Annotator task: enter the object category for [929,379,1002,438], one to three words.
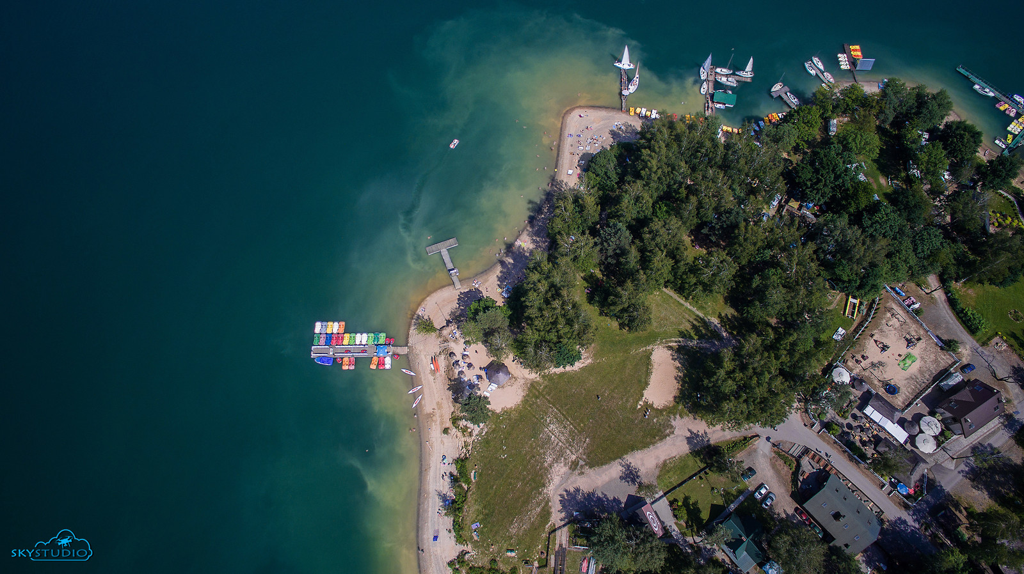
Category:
house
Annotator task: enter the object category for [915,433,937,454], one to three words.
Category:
umbrella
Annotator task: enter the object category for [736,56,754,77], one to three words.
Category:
boat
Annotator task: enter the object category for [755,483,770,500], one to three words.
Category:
car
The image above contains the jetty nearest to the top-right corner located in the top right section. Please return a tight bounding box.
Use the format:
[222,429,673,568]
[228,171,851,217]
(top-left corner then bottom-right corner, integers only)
[955,64,1024,113]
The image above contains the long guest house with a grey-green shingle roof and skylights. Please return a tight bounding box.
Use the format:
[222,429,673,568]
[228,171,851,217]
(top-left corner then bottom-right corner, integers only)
[797,472,880,556]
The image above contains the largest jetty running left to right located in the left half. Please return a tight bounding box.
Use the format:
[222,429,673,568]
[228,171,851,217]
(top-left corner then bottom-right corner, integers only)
[311,345,409,358]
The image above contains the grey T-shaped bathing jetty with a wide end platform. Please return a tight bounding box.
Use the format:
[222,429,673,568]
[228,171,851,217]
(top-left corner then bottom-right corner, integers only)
[425,236,462,291]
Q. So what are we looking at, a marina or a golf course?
marina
